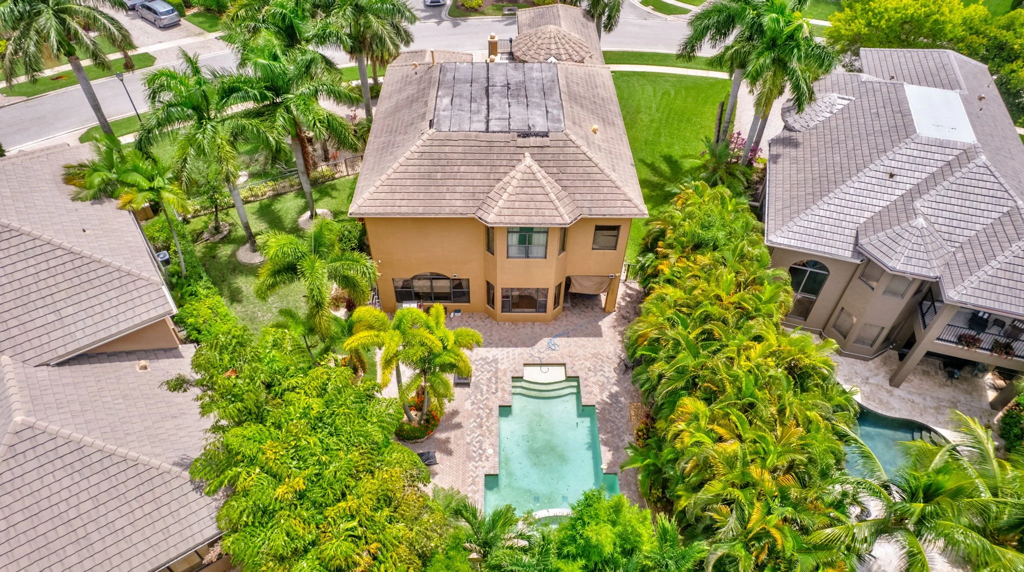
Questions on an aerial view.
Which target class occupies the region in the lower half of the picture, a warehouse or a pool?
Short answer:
pool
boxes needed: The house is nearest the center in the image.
[346,1,651,321]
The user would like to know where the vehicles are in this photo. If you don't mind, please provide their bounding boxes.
[133,0,178,24]
[120,0,140,9]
